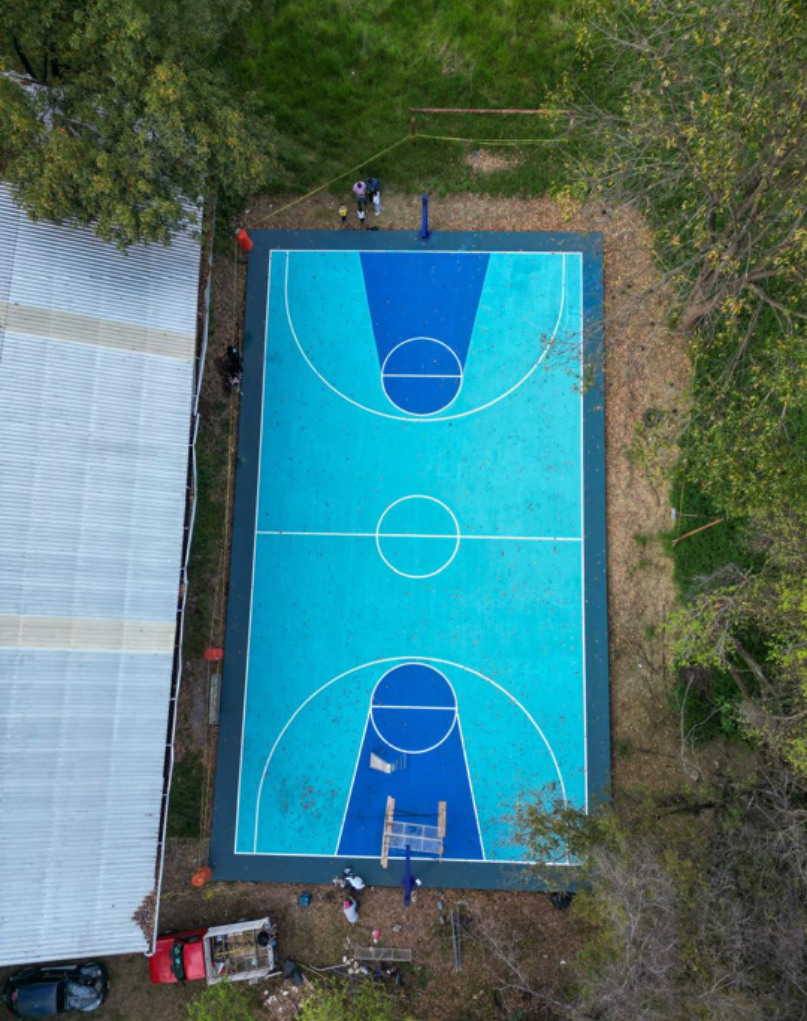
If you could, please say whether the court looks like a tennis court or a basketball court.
basketball court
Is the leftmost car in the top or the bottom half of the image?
bottom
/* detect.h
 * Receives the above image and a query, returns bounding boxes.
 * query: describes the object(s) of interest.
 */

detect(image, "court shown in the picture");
[210,229,613,892]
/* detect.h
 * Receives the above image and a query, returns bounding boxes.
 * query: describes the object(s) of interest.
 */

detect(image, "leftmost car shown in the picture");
[2,962,111,1021]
